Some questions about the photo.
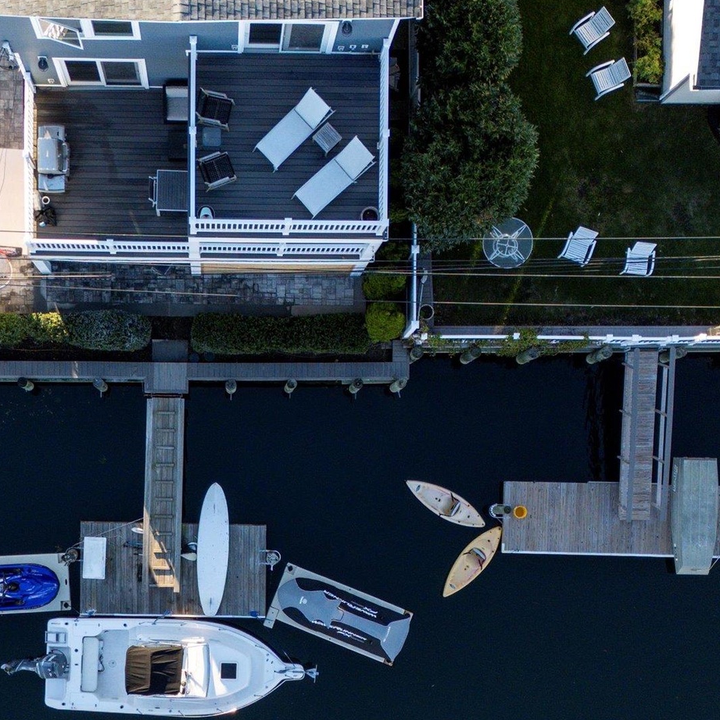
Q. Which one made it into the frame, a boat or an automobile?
boat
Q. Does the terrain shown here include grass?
Yes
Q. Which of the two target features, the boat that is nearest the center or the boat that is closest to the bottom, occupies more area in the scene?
the boat that is closest to the bottom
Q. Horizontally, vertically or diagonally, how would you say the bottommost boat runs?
horizontally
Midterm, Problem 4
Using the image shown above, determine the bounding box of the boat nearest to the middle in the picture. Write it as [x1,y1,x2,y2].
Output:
[406,480,485,526]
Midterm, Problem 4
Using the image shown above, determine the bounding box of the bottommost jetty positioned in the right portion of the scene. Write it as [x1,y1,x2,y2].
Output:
[486,480,674,559]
